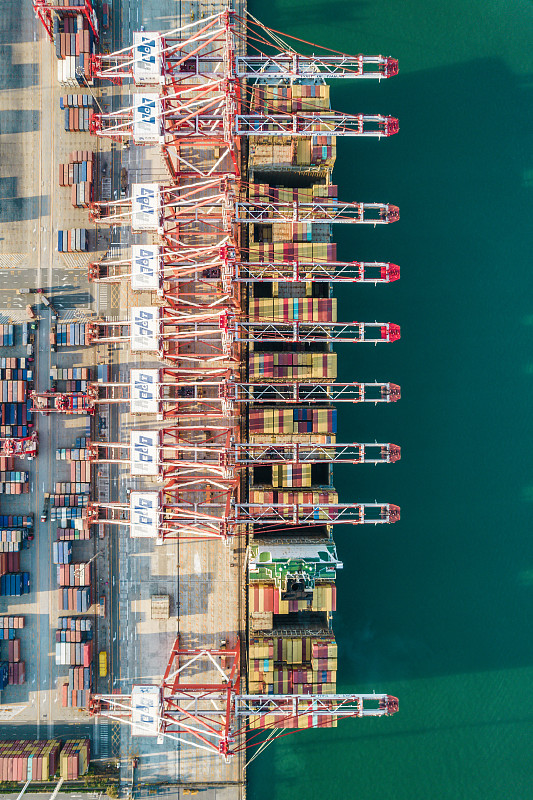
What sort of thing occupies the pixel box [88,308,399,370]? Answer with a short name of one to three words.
container crane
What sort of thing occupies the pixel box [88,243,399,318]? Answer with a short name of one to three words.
container crane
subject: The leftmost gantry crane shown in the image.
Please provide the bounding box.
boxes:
[0,424,39,459]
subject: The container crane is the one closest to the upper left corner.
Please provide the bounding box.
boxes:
[27,0,98,48]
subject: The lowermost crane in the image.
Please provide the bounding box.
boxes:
[88,631,399,757]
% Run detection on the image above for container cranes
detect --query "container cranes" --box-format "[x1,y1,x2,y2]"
[0,424,39,459]
[88,77,399,195]
[88,12,399,144]
[88,631,399,757]
[28,384,97,420]
[88,308,399,370]
[88,419,399,481]
[27,0,98,48]
[88,177,399,263]
[88,243,399,318]
[88,470,399,544]
[88,367,399,420]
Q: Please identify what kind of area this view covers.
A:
port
